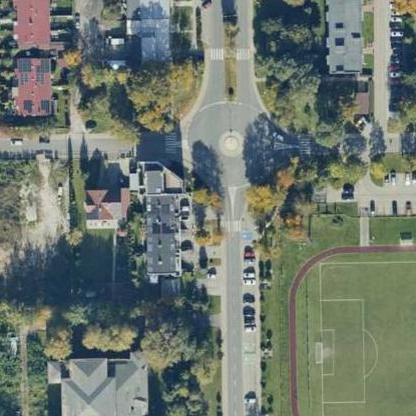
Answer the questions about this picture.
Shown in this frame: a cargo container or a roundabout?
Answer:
roundabout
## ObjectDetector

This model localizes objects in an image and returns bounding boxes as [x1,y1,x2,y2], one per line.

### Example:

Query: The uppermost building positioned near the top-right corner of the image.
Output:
[327,0,365,76]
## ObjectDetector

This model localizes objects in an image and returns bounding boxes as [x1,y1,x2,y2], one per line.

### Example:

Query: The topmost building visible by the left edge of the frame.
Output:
[14,0,53,49]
